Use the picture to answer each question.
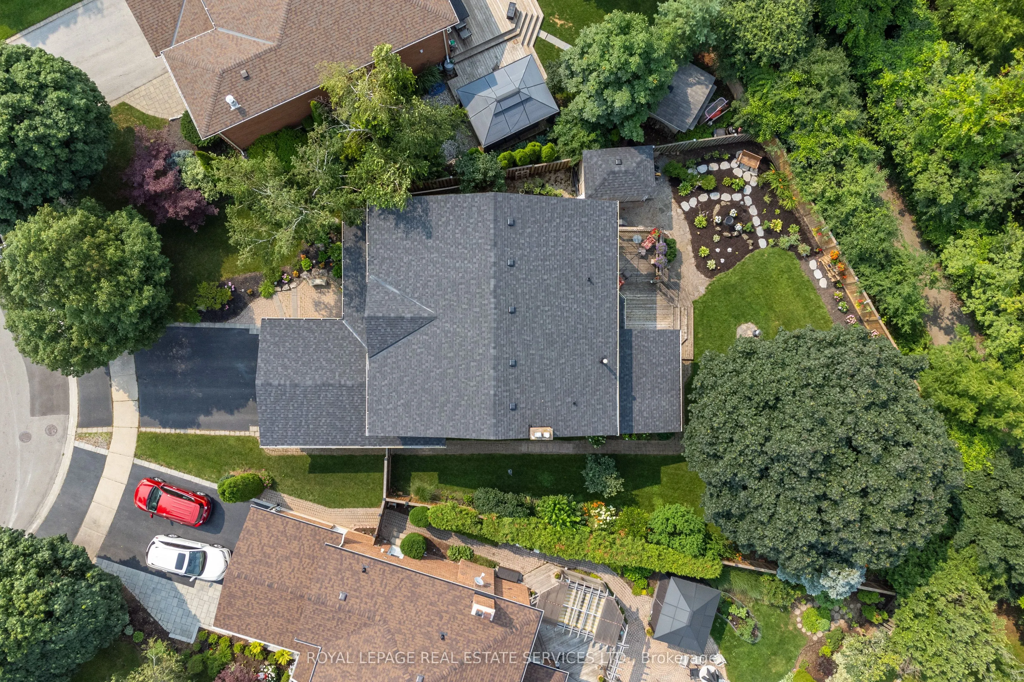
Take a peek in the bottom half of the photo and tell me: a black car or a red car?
red car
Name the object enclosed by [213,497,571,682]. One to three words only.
house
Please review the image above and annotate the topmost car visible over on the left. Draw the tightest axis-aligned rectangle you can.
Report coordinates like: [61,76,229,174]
[133,476,216,528]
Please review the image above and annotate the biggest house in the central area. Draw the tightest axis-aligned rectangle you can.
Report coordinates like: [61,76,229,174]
[254,192,684,449]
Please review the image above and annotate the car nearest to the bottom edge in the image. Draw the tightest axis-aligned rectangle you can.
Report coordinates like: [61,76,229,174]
[144,532,231,583]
